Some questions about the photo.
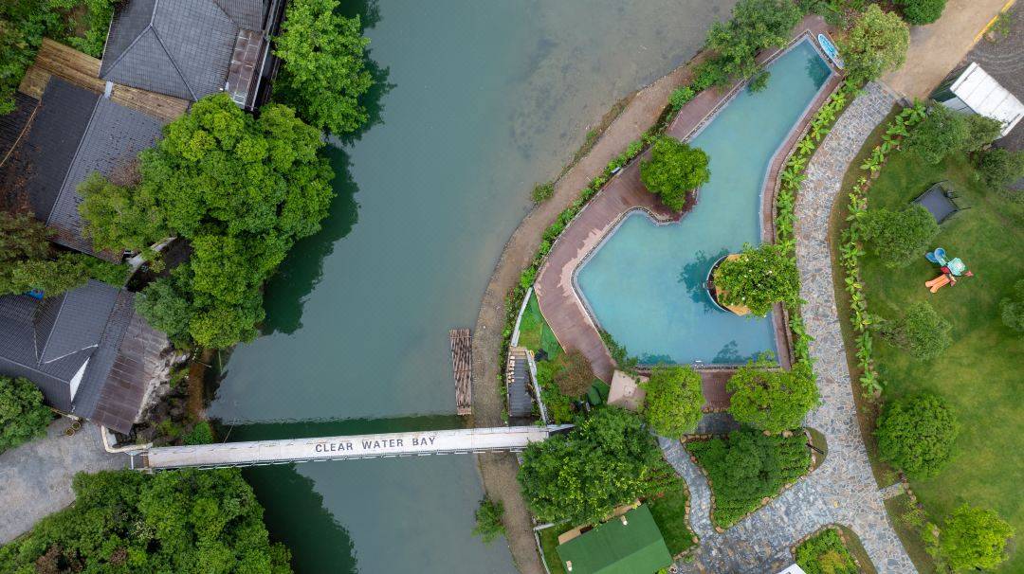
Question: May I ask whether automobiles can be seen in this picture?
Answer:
No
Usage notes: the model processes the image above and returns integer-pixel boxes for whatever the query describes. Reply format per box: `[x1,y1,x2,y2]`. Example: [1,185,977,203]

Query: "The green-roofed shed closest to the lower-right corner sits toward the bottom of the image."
[556,496,681,574]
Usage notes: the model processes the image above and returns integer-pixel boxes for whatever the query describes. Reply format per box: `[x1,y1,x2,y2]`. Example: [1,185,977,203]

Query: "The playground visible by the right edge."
[925,247,977,293]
